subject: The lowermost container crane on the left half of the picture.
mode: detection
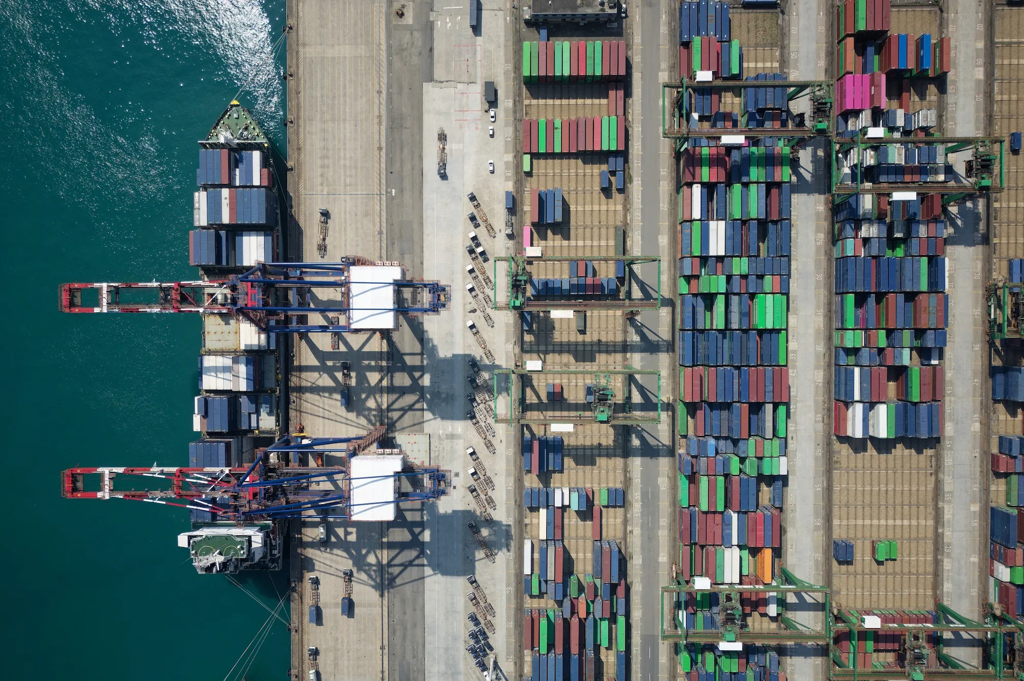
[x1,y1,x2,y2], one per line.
[60,422,454,525]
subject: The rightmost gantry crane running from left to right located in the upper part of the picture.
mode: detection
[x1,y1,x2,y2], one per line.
[827,130,1002,213]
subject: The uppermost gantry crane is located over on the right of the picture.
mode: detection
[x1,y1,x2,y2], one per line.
[663,75,834,161]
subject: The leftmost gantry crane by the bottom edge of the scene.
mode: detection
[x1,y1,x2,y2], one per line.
[660,554,828,651]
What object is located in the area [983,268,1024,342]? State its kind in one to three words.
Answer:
container crane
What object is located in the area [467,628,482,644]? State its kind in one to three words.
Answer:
work vehicle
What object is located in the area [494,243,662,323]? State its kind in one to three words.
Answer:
container crane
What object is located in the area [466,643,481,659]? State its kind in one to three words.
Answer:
work vehicle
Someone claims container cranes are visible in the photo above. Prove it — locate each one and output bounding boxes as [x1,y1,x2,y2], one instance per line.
[663,75,834,161]
[58,252,454,341]
[494,243,662,323]
[823,591,995,681]
[660,554,828,651]
[983,268,1024,342]
[827,130,1002,213]
[60,422,454,525]
[494,349,661,434]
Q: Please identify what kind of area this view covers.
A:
port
